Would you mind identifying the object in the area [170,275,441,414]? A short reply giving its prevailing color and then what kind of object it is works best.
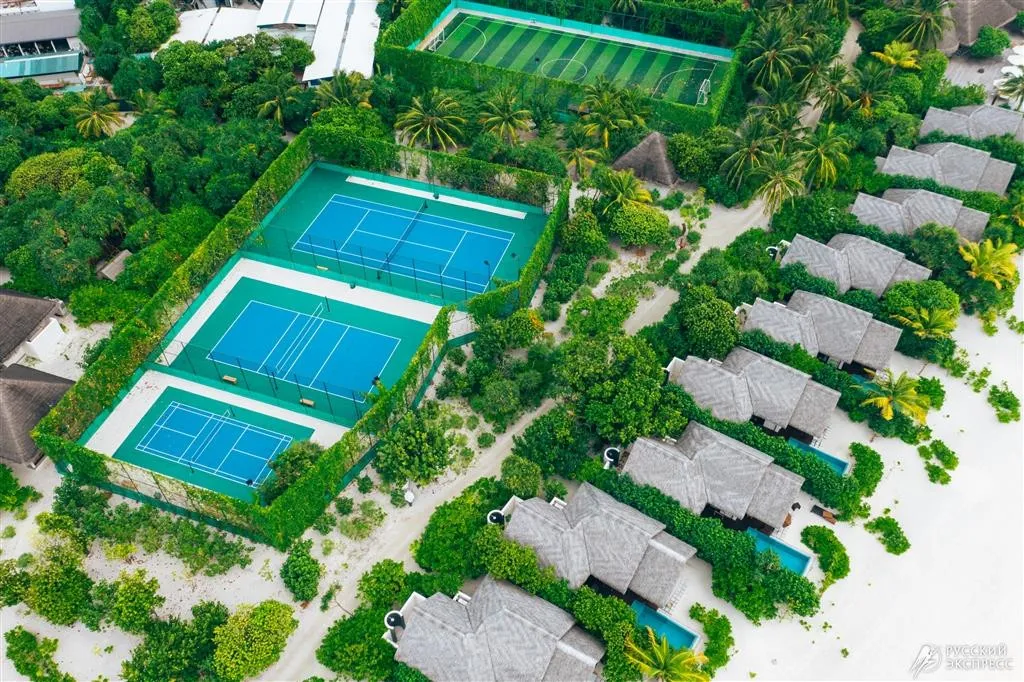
blue sports court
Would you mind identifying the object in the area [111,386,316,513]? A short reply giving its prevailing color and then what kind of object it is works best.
blue sports court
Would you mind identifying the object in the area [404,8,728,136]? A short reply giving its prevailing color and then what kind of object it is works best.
green soccer field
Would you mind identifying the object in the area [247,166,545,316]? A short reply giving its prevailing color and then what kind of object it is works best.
blue tennis court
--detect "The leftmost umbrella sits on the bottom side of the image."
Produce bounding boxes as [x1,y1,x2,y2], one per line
[402,492,416,510]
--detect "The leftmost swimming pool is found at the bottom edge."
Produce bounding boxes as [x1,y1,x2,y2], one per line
[624,594,701,658]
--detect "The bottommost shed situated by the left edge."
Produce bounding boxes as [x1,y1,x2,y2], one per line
[0,365,77,470]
